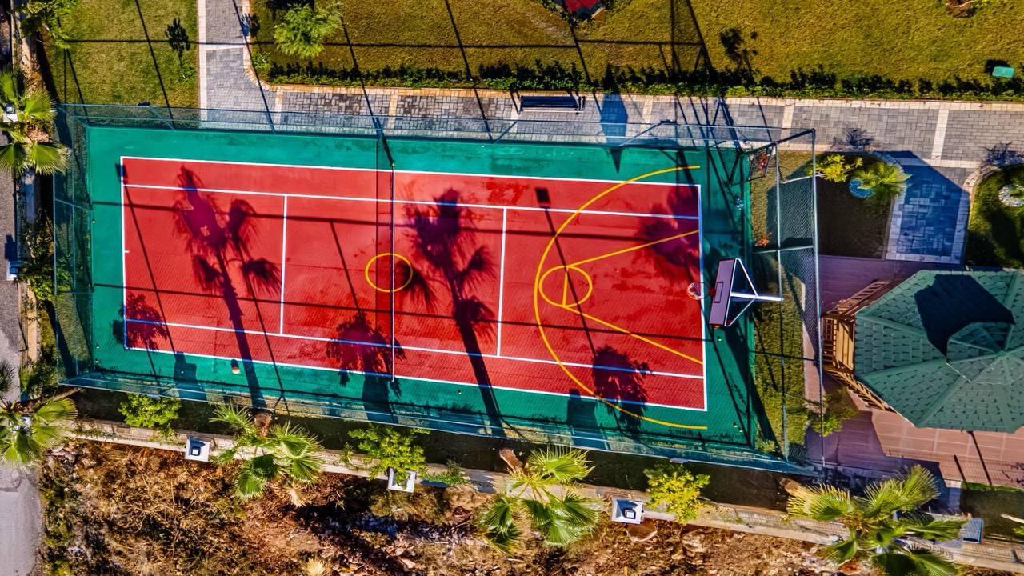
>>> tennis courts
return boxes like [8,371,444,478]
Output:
[91,129,757,451]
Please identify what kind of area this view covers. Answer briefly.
sports ground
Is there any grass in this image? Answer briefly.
Yes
